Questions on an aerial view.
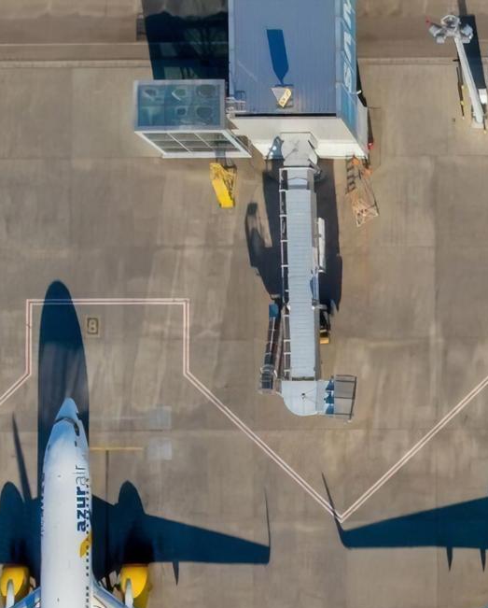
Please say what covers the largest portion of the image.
paved ground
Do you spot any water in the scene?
No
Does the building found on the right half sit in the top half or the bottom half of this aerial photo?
top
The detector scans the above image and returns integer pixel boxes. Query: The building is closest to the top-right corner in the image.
[227,0,370,159]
